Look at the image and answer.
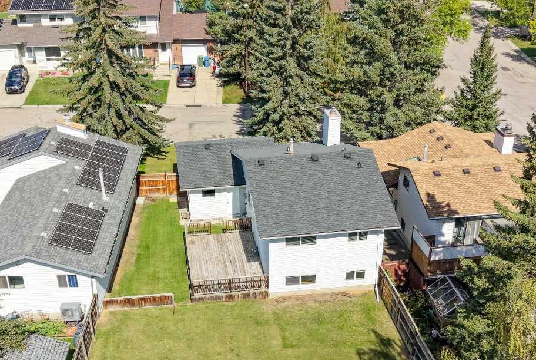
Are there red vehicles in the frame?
No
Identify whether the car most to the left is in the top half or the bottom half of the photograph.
top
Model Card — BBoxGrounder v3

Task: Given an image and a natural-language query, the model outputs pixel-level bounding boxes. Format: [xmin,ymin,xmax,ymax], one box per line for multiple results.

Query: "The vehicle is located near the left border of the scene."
[6,65,40,90]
